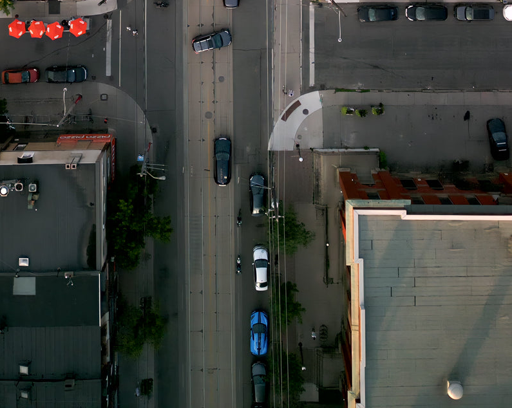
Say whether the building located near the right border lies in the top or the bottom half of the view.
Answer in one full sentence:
The building located near the right border is in the bottom half of the image.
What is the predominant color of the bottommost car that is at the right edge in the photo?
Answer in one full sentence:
The color of the bottommost car that is at the right edge is black.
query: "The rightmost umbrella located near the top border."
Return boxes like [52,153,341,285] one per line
[69,18,88,36]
